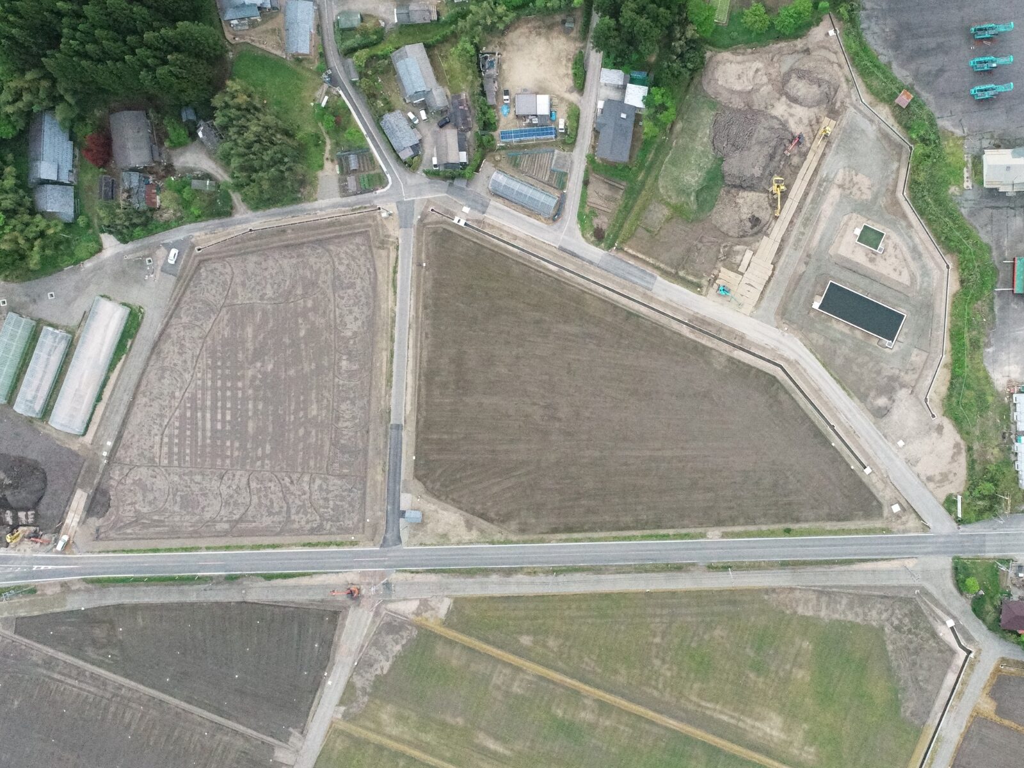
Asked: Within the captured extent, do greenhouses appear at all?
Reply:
Yes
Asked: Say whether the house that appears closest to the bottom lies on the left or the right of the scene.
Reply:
right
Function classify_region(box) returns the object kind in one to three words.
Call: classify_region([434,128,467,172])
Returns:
house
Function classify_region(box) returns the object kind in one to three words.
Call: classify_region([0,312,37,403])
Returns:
greenhouse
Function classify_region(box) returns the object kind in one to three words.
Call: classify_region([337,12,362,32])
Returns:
shed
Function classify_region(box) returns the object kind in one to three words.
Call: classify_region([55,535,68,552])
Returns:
vehicle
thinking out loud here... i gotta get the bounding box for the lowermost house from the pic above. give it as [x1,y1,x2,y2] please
[991,597,1024,634]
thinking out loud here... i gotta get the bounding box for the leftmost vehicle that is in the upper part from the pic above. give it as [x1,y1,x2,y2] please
[166,247,178,264]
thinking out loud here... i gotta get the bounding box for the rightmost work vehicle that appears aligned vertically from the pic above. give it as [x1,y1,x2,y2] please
[770,176,789,216]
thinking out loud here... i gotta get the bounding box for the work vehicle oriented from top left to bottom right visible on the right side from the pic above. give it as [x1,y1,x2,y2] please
[718,285,739,303]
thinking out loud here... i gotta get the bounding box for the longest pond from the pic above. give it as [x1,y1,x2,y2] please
[818,279,907,347]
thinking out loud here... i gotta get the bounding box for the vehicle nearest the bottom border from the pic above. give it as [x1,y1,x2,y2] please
[331,587,360,599]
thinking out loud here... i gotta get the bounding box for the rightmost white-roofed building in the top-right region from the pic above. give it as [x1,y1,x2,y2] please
[973,149,1024,197]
